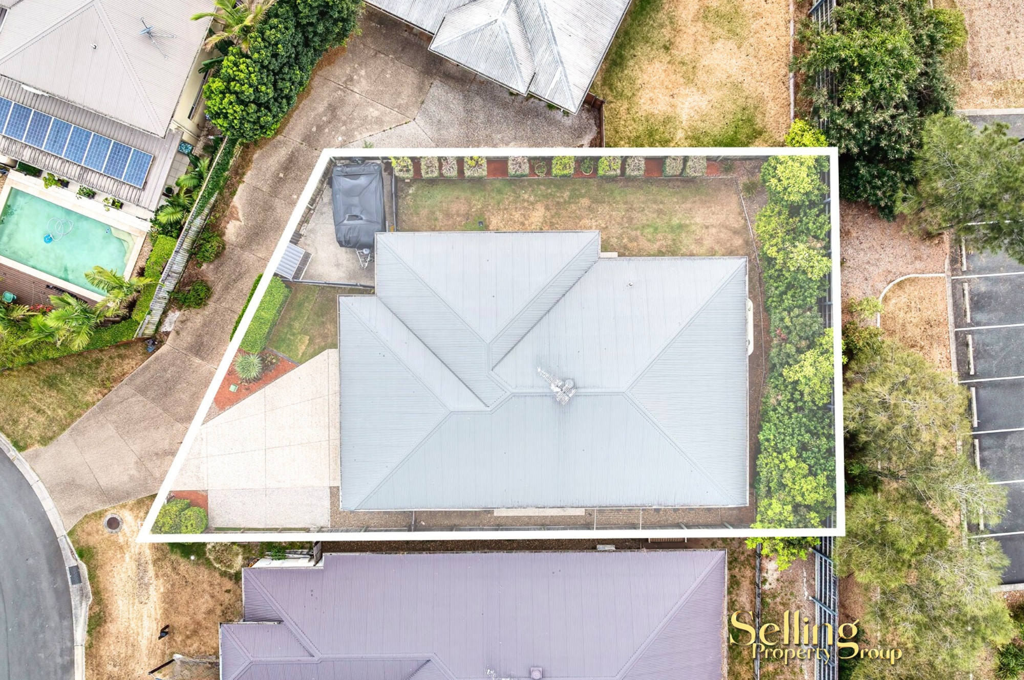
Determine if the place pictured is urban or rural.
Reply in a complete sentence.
From above, the setting appears urban.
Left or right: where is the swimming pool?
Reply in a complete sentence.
You can find the swimming pool on the left side of the picture.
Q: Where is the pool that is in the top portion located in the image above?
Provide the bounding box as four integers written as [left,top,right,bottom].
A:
[0,172,147,306]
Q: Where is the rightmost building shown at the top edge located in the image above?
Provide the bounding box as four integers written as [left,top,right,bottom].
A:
[351,0,631,114]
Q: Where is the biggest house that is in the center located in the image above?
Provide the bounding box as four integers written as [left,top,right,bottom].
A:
[339,231,748,510]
